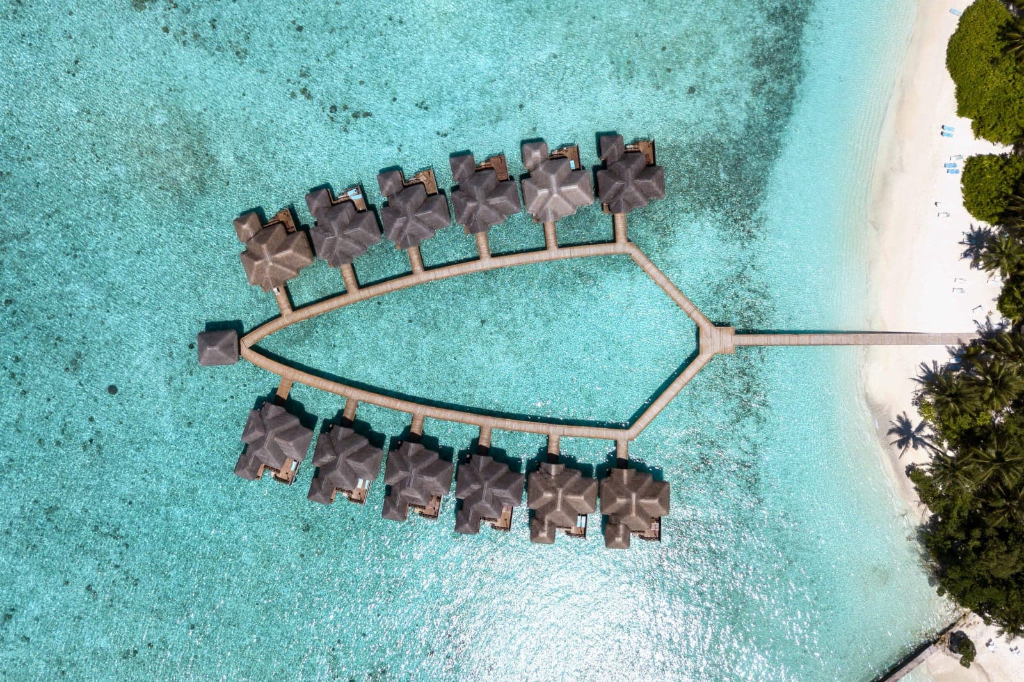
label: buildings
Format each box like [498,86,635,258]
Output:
[595,134,666,218]
[599,463,668,546]
[379,436,454,522]
[447,152,523,239]
[452,450,524,534]
[374,165,453,253]
[198,330,245,365]
[230,206,314,295]
[232,399,314,488]
[526,459,597,541]
[305,420,384,508]
[302,183,383,271]
[519,141,593,226]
